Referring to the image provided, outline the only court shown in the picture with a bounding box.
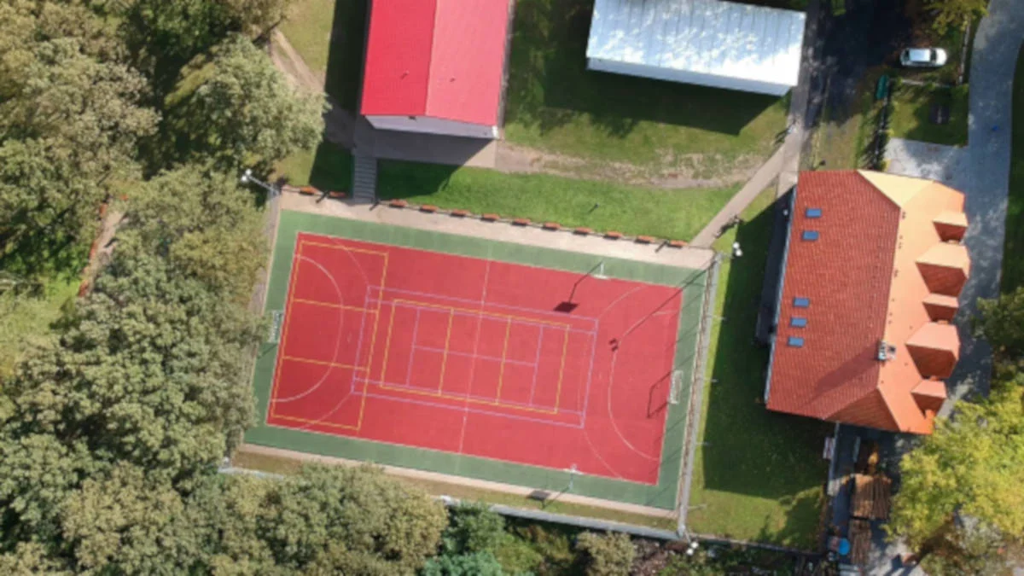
[242,208,709,510]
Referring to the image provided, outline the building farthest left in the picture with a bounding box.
[360,0,510,136]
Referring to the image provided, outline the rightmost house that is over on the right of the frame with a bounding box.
[762,170,974,434]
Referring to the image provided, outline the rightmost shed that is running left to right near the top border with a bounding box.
[587,0,810,94]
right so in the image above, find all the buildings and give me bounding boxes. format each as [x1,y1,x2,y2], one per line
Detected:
[587,0,810,94]
[762,170,974,434]
[360,0,510,136]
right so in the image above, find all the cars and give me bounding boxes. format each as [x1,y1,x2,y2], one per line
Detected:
[902,44,949,67]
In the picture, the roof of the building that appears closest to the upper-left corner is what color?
red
